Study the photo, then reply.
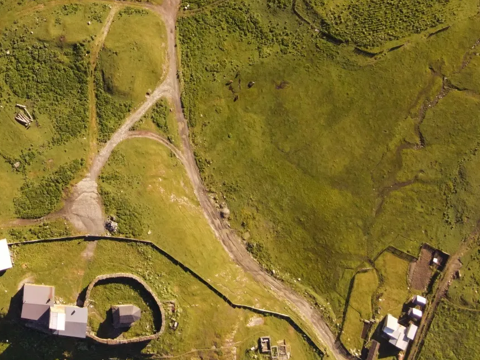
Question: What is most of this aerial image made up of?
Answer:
grass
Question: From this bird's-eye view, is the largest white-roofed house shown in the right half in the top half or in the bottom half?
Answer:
bottom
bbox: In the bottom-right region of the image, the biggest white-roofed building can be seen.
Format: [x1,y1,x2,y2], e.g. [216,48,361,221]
[377,307,409,349]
